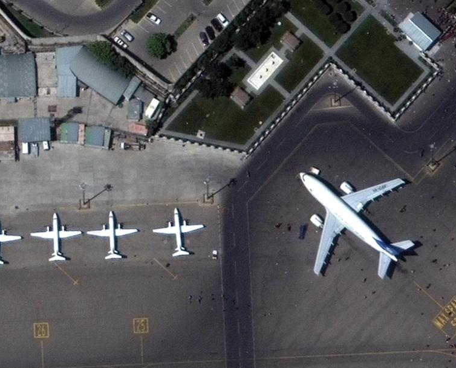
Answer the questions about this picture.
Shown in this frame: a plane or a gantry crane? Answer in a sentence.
Looking from above, you can make out a plane.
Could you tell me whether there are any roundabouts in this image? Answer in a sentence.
No, no roundabout can be seen from above.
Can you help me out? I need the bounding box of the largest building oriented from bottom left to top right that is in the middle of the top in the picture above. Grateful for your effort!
[247,51,284,92]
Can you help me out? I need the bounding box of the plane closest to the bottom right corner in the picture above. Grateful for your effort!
[299,173,414,277]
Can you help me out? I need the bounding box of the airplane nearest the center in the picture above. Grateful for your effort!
[153,207,204,254]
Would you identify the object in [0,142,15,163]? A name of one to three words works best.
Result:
house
